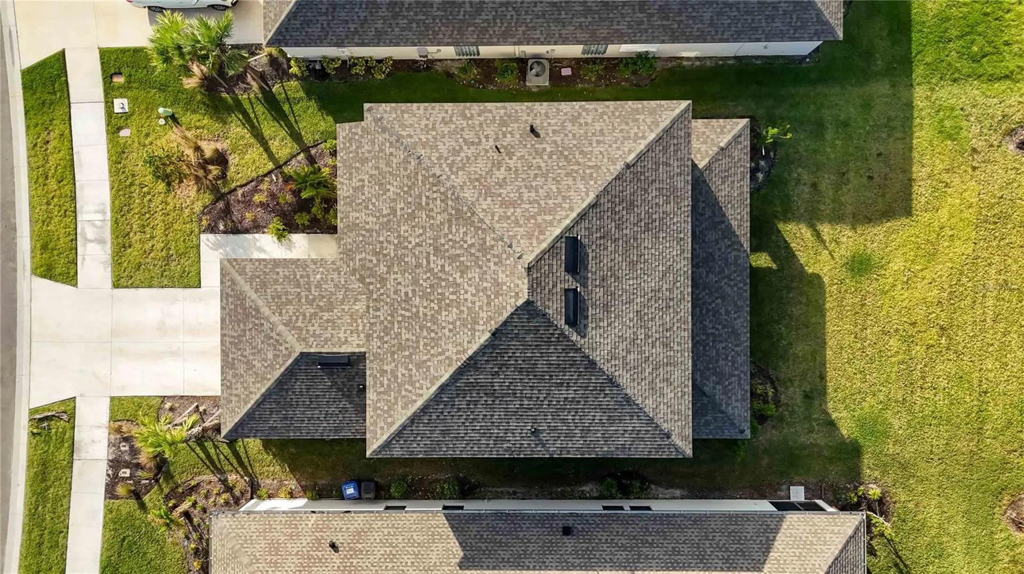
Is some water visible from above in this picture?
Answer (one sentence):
No, the scene doesn't show any water.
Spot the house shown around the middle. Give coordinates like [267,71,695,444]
[220,101,750,458]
